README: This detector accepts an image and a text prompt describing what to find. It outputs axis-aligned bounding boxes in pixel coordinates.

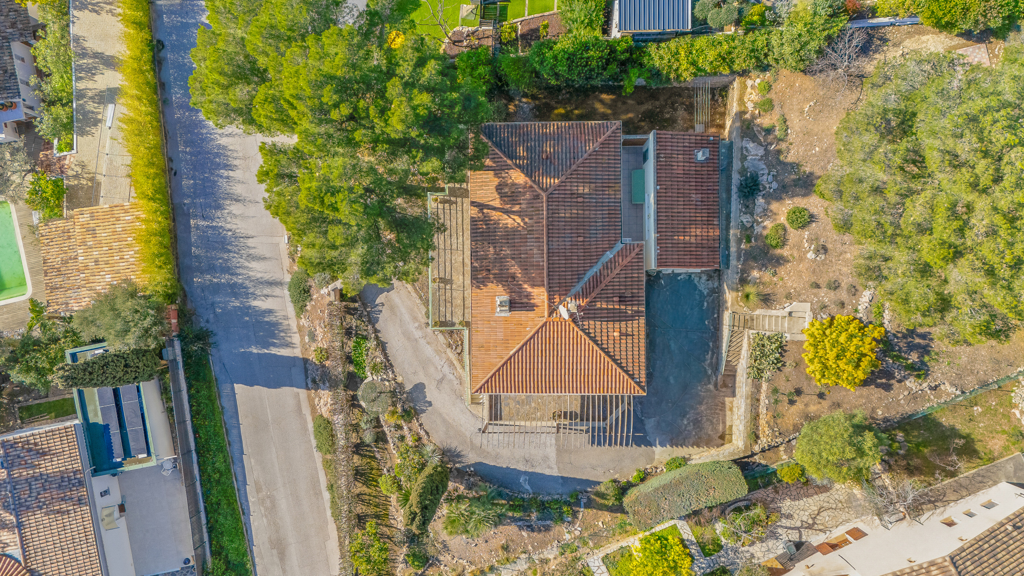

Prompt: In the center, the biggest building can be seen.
[468,119,648,397]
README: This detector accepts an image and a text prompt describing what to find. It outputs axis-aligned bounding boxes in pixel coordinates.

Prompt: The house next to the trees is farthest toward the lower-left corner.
[0,418,141,576]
